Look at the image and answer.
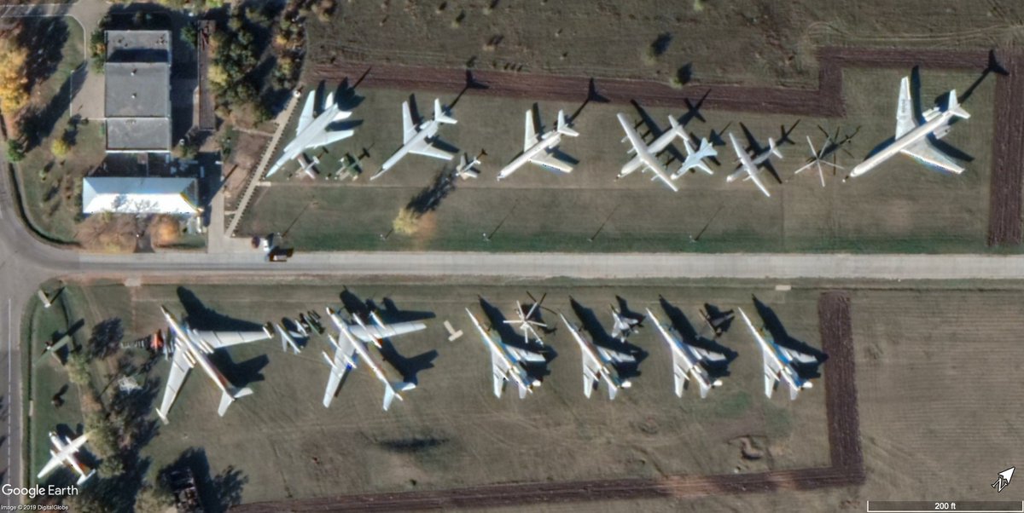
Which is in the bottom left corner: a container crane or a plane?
plane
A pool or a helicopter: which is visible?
helicopter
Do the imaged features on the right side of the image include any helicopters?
Yes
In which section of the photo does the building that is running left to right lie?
left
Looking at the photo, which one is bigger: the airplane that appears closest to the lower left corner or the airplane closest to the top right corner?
the airplane closest to the top right corner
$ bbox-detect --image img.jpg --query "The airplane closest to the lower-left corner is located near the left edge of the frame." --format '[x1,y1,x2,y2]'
[37,433,94,486]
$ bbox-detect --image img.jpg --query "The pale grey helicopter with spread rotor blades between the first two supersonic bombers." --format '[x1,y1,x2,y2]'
[504,302,547,347]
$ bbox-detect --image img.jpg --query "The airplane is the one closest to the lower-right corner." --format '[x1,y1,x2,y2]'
[739,308,819,399]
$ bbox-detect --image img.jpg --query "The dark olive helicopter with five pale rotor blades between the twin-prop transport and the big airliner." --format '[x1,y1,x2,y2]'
[795,136,848,186]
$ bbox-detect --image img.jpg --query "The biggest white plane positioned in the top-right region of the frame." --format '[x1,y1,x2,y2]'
[851,75,971,176]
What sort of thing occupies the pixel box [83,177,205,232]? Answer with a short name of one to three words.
building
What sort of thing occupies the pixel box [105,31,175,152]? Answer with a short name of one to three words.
building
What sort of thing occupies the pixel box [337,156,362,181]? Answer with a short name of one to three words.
airplane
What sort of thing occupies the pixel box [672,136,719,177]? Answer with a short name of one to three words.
airplane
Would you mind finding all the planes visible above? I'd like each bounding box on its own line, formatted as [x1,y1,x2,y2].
[727,132,784,196]
[316,307,425,409]
[372,100,457,178]
[466,309,546,400]
[457,154,482,176]
[688,308,729,341]
[155,306,272,421]
[672,136,719,177]
[618,114,692,193]
[739,308,819,399]
[31,334,71,373]
[337,156,362,181]
[559,313,639,404]
[611,305,638,343]
[37,433,94,486]
[646,308,726,399]
[296,155,319,178]
[266,89,354,177]
[499,108,579,178]
[851,75,971,176]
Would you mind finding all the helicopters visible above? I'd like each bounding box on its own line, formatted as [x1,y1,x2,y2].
[504,302,547,347]
[795,136,848,186]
